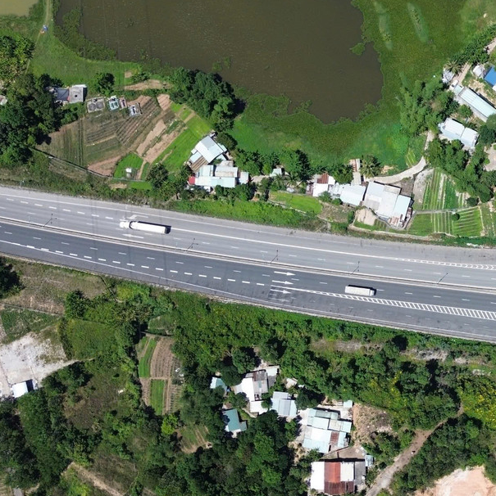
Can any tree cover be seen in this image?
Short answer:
Yes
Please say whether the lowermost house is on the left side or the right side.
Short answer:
right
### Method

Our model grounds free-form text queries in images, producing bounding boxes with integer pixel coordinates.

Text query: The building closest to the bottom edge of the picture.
[310,455,374,495]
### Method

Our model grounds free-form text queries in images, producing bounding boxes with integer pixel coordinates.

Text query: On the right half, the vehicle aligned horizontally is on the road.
[345,286,375,298]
